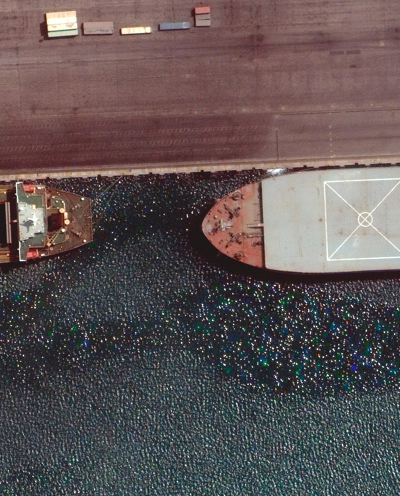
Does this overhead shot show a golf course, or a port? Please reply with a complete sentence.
This looks like a port.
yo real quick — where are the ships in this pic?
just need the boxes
[202,164,400,272]
[0,182,92,263]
